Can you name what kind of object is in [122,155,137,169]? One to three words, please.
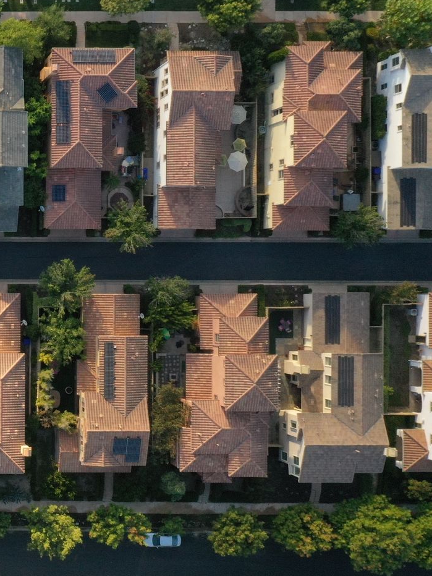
umbrella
